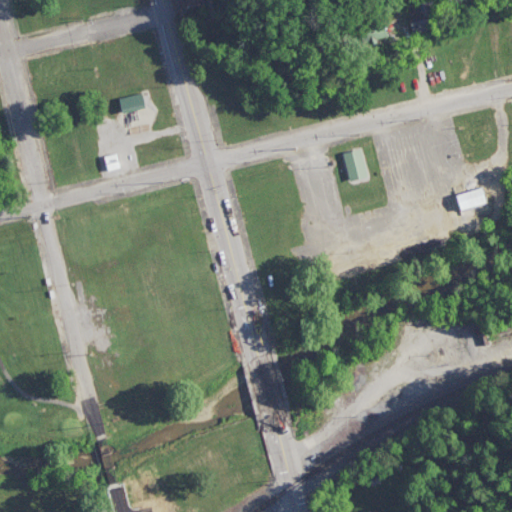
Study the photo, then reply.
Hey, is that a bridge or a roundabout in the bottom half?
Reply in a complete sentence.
The one visible in the bottom half is a bridge.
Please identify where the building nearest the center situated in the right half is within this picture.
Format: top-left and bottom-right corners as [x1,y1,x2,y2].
[344,148,369,182]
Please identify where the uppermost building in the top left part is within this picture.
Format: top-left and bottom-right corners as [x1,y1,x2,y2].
[120,94,144,112]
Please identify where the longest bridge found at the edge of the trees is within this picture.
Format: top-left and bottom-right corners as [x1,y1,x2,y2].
[241,352,294,436]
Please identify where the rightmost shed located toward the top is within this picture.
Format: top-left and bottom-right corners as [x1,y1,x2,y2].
[457,186,488,212]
